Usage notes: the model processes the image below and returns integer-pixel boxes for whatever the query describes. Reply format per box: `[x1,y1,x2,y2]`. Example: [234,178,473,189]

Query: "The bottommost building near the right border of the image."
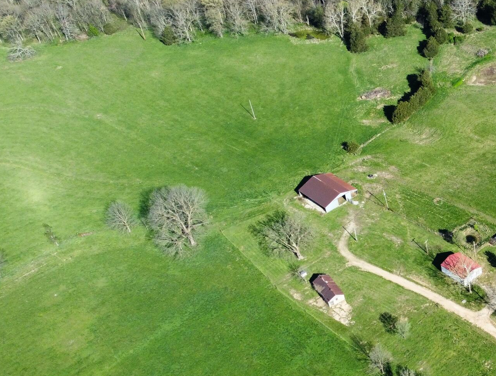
[437,253,482,287]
